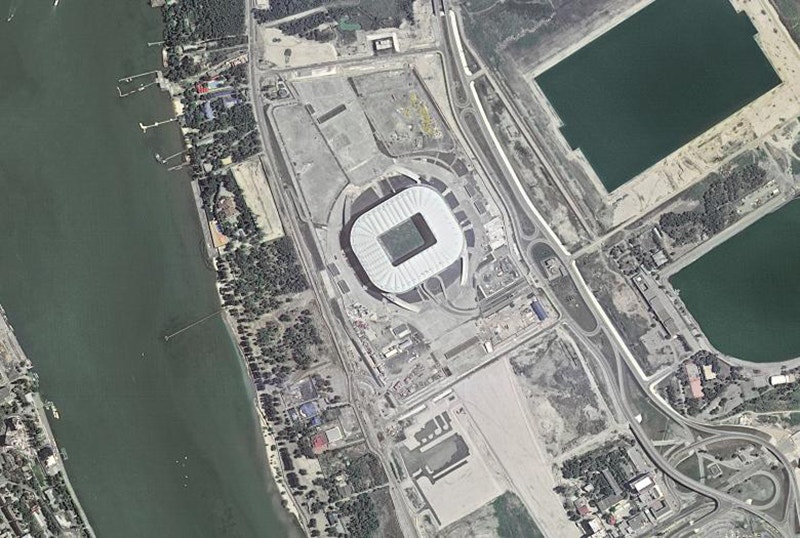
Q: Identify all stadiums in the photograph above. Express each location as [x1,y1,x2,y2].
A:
[348,183,466,295]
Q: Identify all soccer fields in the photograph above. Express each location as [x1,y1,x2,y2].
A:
[377,212,437,266]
